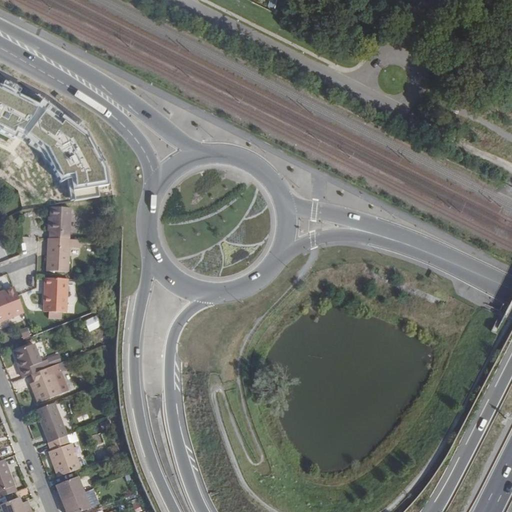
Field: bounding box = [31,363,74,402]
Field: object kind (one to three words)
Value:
house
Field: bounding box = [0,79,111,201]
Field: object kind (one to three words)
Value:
building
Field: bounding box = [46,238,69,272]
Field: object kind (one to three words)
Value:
house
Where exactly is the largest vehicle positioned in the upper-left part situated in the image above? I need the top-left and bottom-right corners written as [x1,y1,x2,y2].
[73,88,110,116]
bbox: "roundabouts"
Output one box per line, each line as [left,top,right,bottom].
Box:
[137,143,296,303]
